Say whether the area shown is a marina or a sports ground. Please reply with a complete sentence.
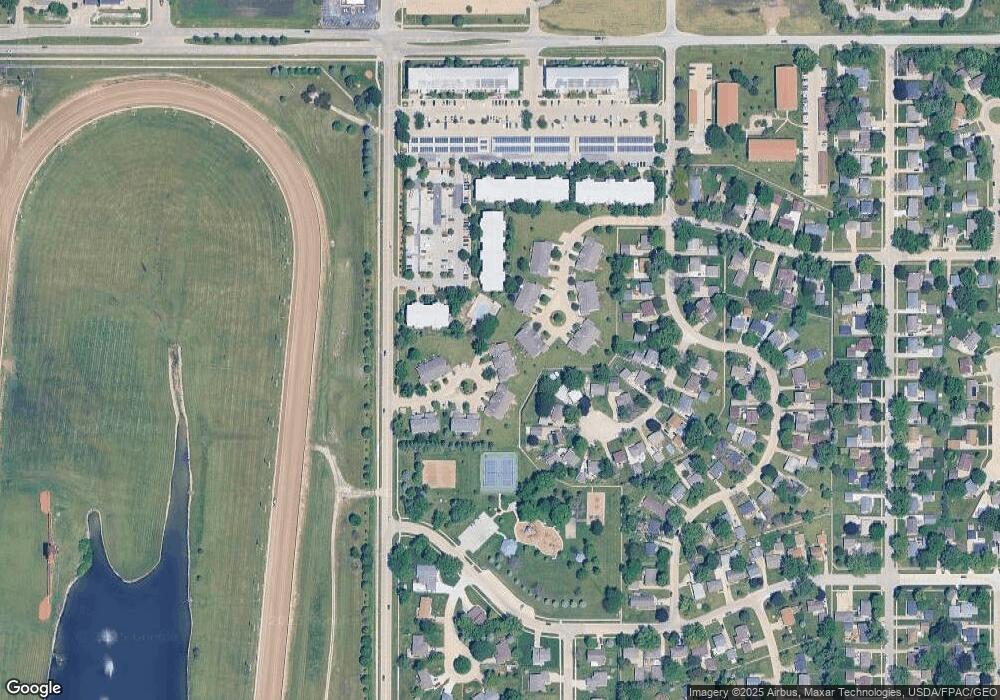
This looks like a sports ground.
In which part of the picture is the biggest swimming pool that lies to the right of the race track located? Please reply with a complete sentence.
Look in the center portion of the view to spot the biggest swimming pool that lies to the right of the race track.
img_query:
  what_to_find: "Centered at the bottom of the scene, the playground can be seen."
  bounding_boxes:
[514,520,563,559]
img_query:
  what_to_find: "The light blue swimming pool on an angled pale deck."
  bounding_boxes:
[468,294,500,328]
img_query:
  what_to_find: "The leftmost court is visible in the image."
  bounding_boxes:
[422,459,457,488]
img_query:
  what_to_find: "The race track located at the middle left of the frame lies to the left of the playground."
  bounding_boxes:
[0,74,329,700]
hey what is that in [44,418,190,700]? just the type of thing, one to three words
pond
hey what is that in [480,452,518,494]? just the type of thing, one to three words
tennis court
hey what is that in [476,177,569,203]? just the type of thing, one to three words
building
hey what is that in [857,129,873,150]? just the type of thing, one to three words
house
